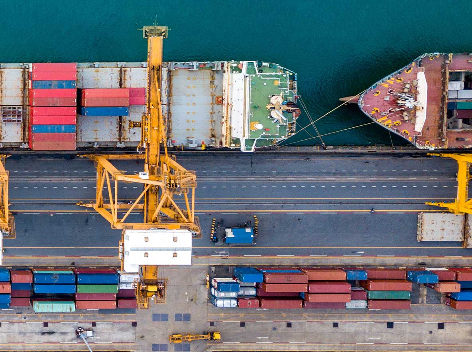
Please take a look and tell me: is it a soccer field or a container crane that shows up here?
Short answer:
container crane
